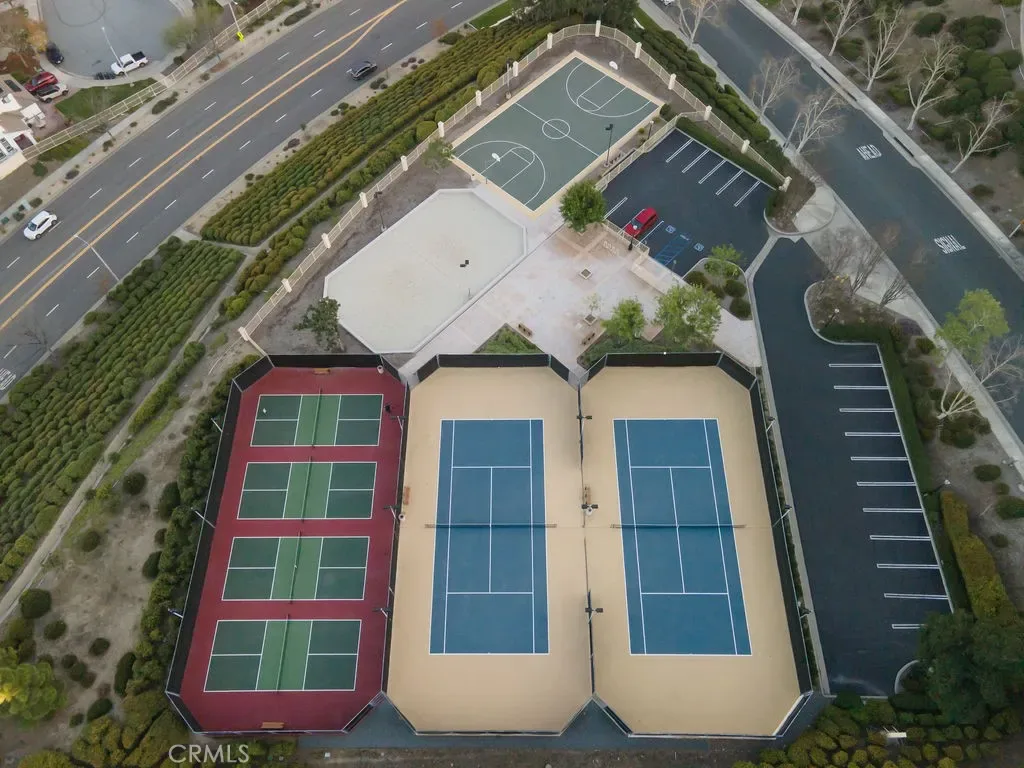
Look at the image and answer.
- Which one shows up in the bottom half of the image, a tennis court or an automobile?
tennis court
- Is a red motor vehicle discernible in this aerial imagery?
Yes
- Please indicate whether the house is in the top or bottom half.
top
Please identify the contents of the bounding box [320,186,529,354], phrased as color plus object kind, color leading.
white sports court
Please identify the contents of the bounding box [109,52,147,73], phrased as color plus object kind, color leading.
white truck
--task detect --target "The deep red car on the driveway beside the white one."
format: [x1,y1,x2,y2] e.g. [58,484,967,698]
[23,69,56,91]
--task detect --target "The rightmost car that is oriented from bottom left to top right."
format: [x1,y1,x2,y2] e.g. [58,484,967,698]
[626,206,660,235]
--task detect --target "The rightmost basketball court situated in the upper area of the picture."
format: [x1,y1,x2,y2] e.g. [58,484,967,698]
[444,52,659,217]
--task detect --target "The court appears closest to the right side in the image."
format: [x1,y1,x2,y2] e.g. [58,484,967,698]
[582,368,803,737]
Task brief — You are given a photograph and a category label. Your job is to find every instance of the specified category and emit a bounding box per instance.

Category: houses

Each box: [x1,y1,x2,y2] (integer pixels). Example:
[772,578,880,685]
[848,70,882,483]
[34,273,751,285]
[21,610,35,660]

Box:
[0,86,50,160]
